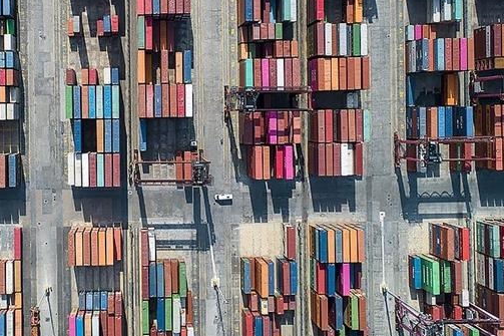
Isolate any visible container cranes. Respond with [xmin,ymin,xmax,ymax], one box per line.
[397,300,503,336]
[395,134,500,164]
[133,153,213,187]
[224,84,312,117]
[474,75,504,103]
